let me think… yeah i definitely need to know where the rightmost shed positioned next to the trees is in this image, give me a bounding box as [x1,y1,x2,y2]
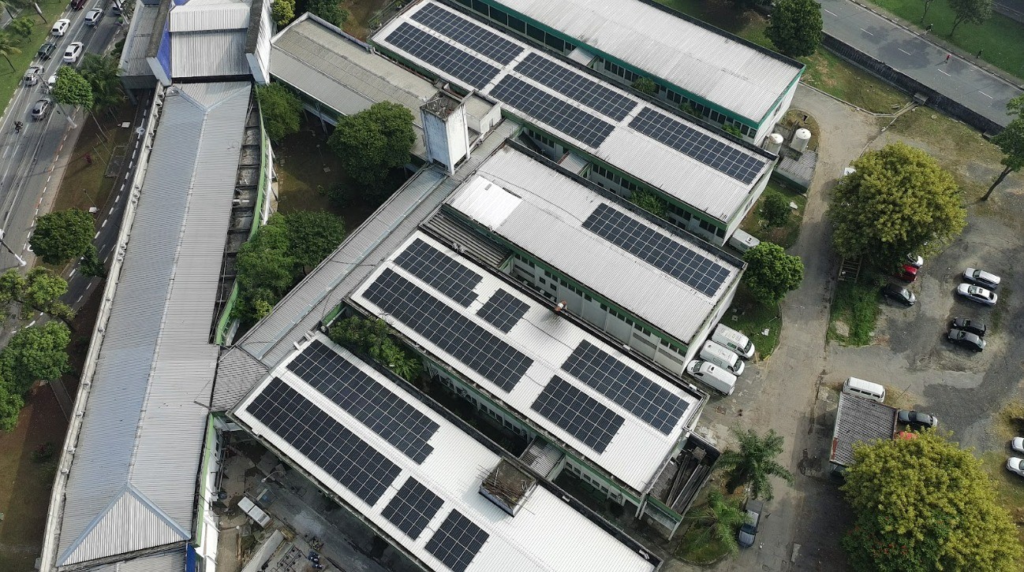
[824,391,899,472]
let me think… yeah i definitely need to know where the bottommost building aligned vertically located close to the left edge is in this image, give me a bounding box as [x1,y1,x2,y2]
[35,81,279,572]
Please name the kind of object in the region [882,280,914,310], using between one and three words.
car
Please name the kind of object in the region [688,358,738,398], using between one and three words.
van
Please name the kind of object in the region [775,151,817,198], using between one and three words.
shed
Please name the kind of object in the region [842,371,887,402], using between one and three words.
vehicle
